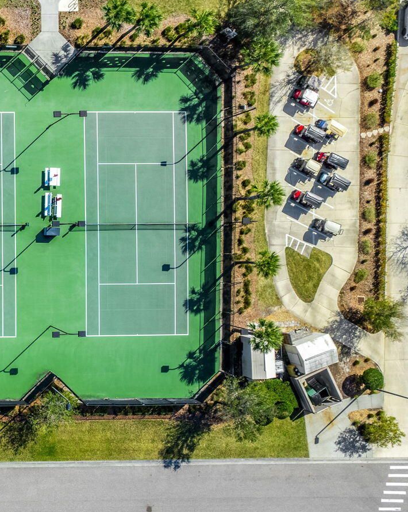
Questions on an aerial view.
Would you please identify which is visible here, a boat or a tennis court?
tennis court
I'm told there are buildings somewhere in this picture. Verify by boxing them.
[284,331,339,375]
[236,332,274,379]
